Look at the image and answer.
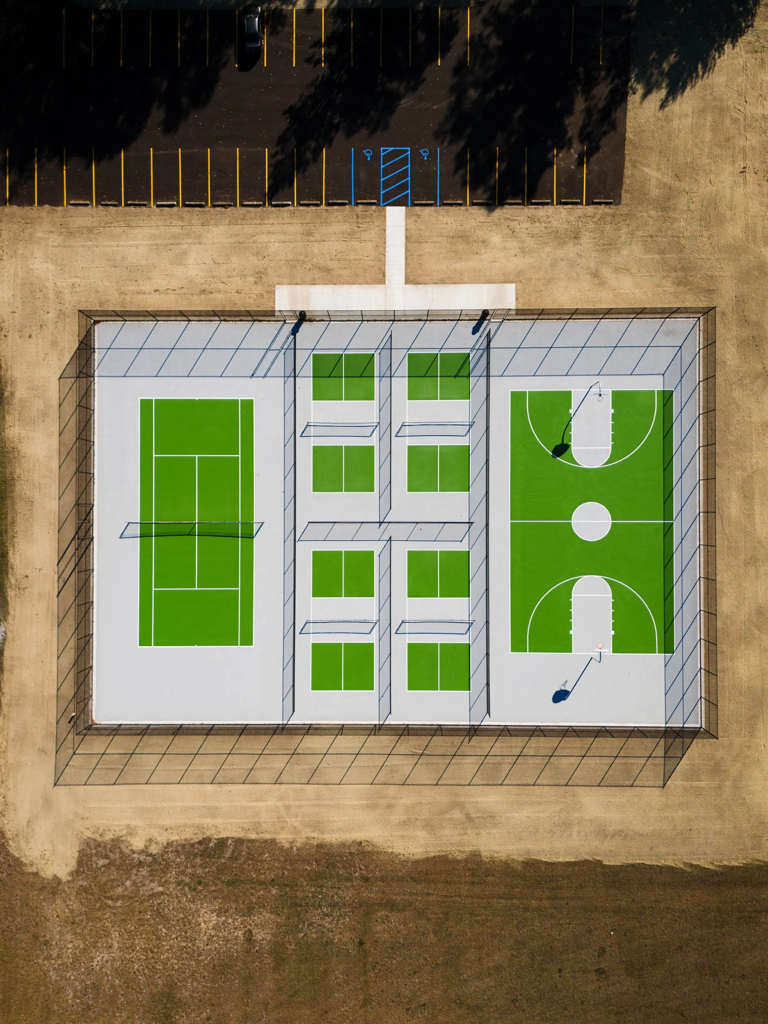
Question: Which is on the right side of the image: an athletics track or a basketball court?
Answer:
basketball court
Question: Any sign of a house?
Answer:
No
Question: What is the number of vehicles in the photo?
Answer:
1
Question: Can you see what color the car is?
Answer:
black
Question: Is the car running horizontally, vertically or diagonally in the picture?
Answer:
vertically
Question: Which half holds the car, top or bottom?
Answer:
top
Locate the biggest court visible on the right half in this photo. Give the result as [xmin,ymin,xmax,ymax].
[510,389,675,654]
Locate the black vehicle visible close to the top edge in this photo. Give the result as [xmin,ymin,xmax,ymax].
[241,3,264,51]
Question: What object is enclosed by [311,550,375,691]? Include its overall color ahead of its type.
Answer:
green sports court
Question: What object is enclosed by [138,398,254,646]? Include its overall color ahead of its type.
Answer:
green tennis court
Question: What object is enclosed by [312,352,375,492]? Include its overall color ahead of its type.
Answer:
green sports court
